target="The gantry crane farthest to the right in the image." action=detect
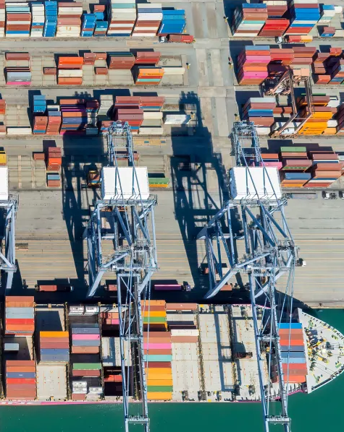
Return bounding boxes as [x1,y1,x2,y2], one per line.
[263,67,315,140]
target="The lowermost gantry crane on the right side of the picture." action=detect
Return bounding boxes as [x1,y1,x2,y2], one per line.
[192,115,295,432]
